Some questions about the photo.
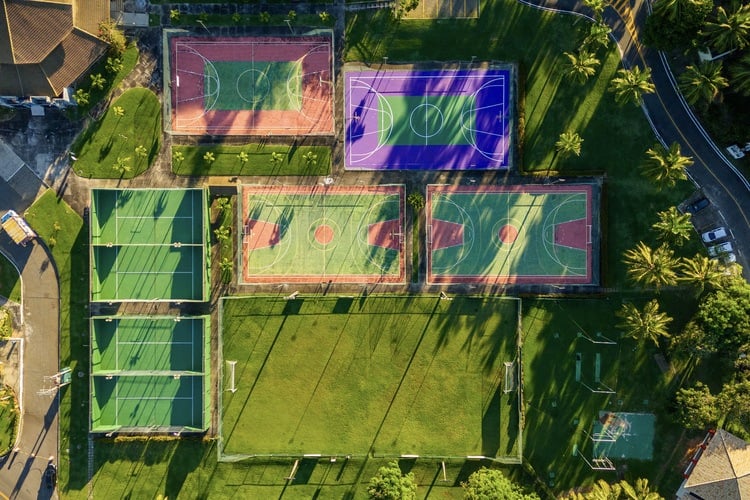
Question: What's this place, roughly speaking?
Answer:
sports ground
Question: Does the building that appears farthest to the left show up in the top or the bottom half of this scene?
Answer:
top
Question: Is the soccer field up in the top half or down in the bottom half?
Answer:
bottom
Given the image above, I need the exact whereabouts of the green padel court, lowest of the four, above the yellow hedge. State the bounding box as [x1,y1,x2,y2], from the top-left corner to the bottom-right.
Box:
[90,372,209,433]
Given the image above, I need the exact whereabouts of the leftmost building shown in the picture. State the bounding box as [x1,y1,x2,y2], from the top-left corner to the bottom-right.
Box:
[0,0,111,97]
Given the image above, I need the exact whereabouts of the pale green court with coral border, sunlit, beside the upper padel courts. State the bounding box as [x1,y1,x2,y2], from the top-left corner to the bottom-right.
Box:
[242,184,406,284]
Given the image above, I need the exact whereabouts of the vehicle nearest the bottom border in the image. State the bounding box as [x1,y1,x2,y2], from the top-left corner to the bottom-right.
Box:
[42,463,56,488]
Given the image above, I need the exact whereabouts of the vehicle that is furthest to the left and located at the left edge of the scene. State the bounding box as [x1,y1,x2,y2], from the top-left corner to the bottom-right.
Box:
[0,211,32,245]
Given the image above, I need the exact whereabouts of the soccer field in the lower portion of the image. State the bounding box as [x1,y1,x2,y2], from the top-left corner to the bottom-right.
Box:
[222,298,520,457]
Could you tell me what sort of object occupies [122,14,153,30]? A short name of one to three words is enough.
shed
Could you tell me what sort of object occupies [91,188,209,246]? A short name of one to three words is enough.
sports court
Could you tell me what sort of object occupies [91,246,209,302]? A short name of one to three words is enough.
sports court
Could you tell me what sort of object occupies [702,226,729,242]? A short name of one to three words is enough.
car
